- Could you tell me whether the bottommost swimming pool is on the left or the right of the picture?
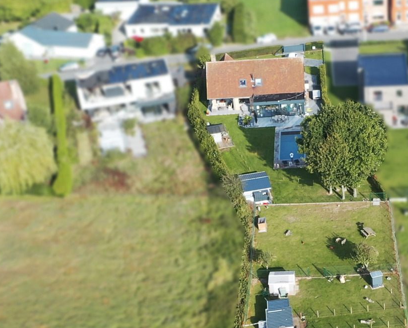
right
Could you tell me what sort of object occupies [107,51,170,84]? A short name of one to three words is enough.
solar array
